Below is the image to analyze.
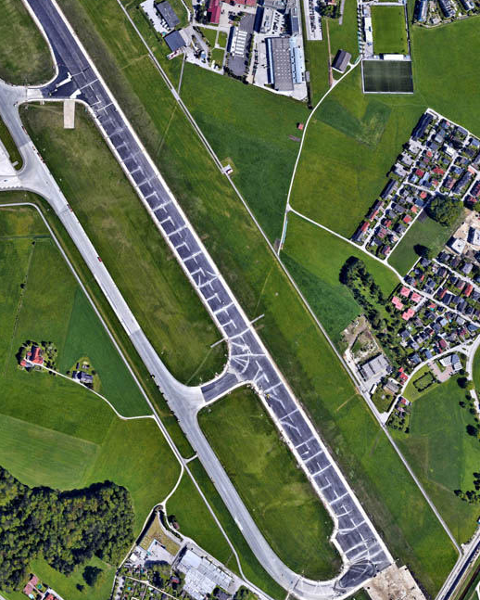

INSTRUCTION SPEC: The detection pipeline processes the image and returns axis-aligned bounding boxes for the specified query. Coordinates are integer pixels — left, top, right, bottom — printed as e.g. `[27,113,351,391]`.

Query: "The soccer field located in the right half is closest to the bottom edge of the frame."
[361,59,413,94]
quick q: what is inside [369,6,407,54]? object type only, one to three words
soccer field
